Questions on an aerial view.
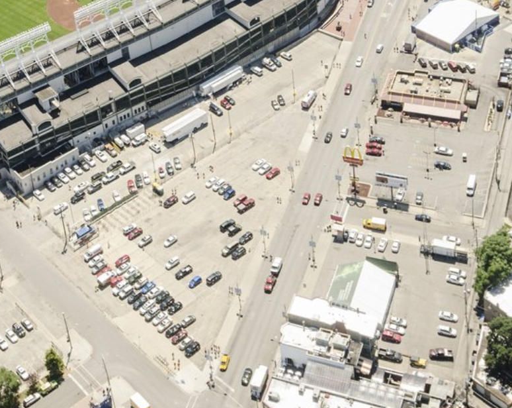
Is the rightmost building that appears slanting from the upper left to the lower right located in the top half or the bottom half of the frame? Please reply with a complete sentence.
Seen from above, the rightmost building that appears slanting from the upper left to the lower right lies in the bottom half of the view.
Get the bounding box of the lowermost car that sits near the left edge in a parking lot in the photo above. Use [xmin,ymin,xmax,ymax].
[23,393,41,407]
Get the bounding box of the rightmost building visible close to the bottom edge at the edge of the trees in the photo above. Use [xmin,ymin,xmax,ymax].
[473,372,511,408]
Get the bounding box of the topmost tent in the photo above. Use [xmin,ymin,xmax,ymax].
[412,0,498,55]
